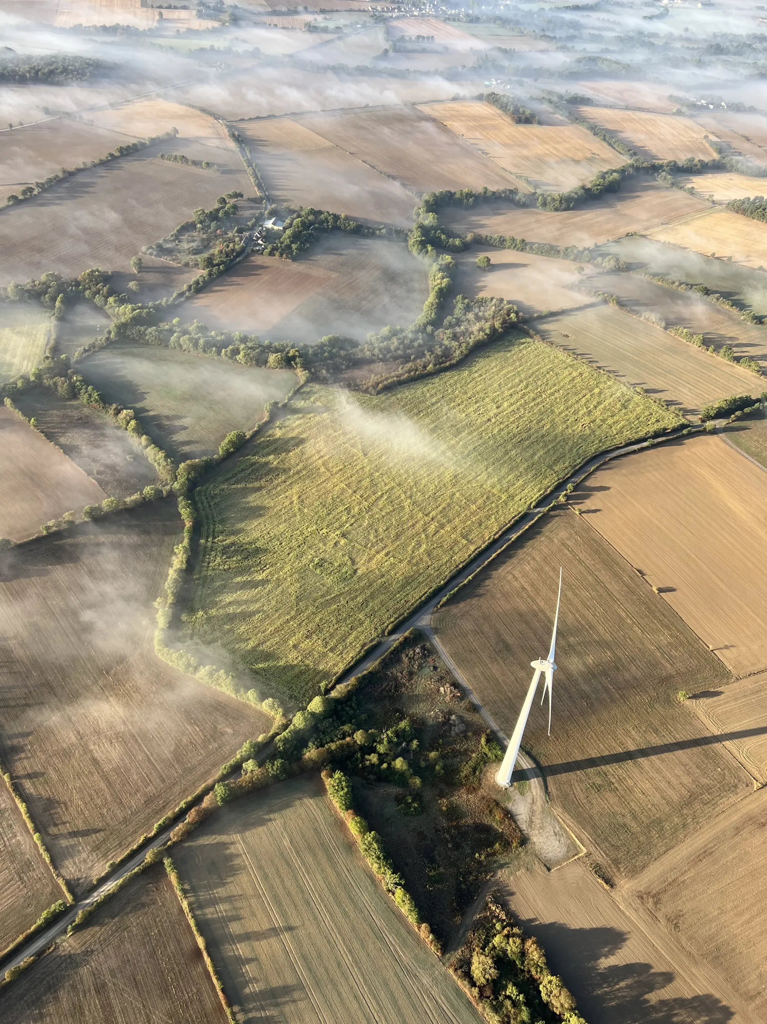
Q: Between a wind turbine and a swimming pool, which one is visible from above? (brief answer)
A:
wind turbine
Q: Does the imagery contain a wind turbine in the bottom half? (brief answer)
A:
Yes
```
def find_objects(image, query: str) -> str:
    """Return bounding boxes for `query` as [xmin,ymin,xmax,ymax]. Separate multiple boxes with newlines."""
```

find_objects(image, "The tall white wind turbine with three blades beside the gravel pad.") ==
[493,566,562,787]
